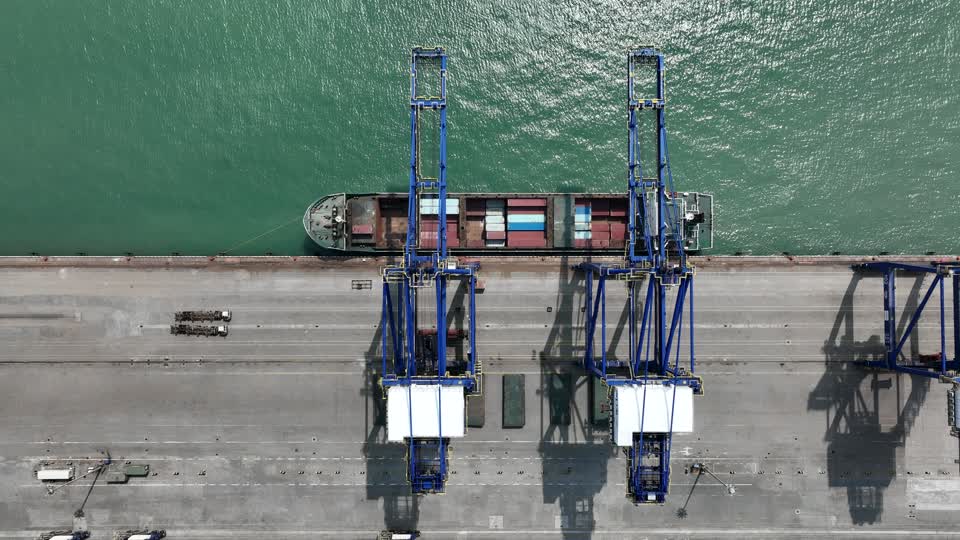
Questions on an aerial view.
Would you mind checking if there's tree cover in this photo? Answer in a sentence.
No, the picture contains no tree cover.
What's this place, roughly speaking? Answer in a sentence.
This image shows a port.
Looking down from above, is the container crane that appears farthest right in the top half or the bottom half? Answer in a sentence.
Seen from above, the container crane that appears farthest right lies in the bottom half of the view.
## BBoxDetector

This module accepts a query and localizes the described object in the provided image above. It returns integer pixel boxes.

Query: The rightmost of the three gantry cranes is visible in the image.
[851,247,960,488]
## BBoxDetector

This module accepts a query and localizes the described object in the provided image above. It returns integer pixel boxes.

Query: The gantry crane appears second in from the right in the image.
[571,43,712,502]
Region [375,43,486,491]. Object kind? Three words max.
container crane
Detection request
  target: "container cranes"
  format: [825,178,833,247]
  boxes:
[851,247,960,488]
[375,43,486,491]
[571,43,712,502]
